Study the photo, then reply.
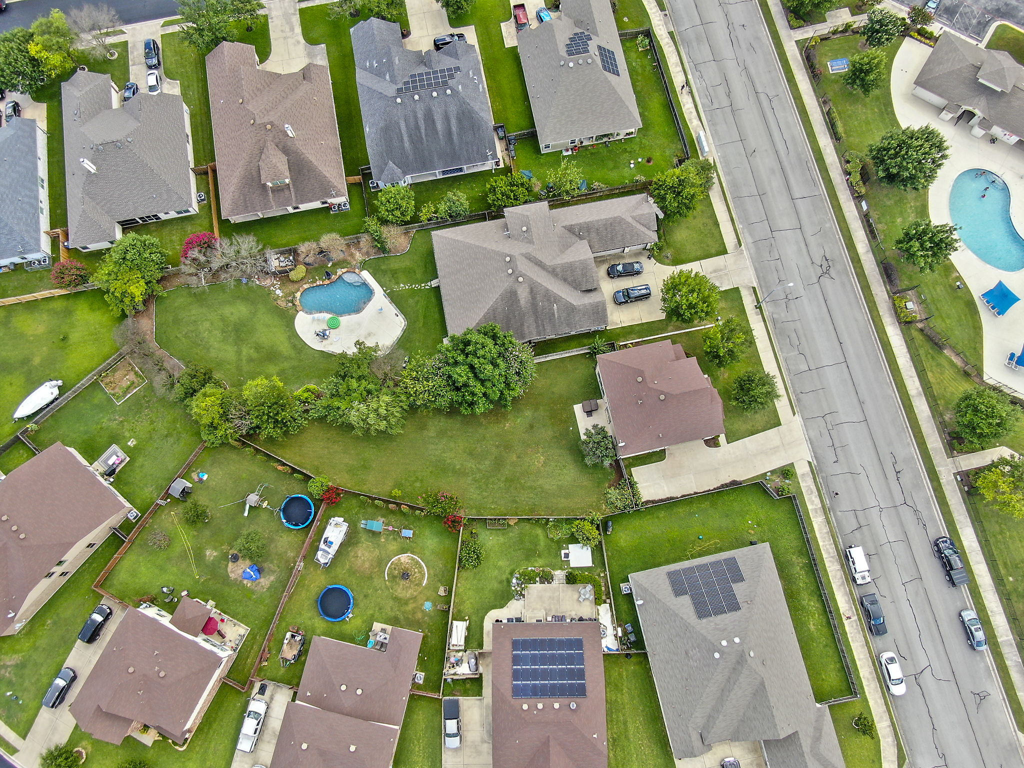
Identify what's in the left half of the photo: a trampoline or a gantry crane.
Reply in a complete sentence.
The feature located in the left half of the photo is a trampoline.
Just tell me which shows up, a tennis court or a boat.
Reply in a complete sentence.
It is a boat that can be seen here.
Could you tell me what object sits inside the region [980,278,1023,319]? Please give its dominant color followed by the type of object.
blue umbrella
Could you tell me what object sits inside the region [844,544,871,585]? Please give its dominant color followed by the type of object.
white car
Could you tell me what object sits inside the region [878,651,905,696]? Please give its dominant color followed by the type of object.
white car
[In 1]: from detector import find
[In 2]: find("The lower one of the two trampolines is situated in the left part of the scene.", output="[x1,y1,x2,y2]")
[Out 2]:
[318,584,354,621]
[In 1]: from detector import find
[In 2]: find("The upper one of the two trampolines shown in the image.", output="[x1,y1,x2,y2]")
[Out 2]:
[281,494,315,528]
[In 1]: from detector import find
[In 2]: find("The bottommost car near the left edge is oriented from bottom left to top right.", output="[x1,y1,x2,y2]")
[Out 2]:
[38,665,78,711]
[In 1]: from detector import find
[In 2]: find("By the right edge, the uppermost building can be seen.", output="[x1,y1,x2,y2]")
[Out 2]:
[908,30,1024,151]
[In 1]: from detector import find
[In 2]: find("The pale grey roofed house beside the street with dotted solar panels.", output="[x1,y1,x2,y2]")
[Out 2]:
[628,542,846,768]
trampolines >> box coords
[281,494,315,528]
[318,584,354,621]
